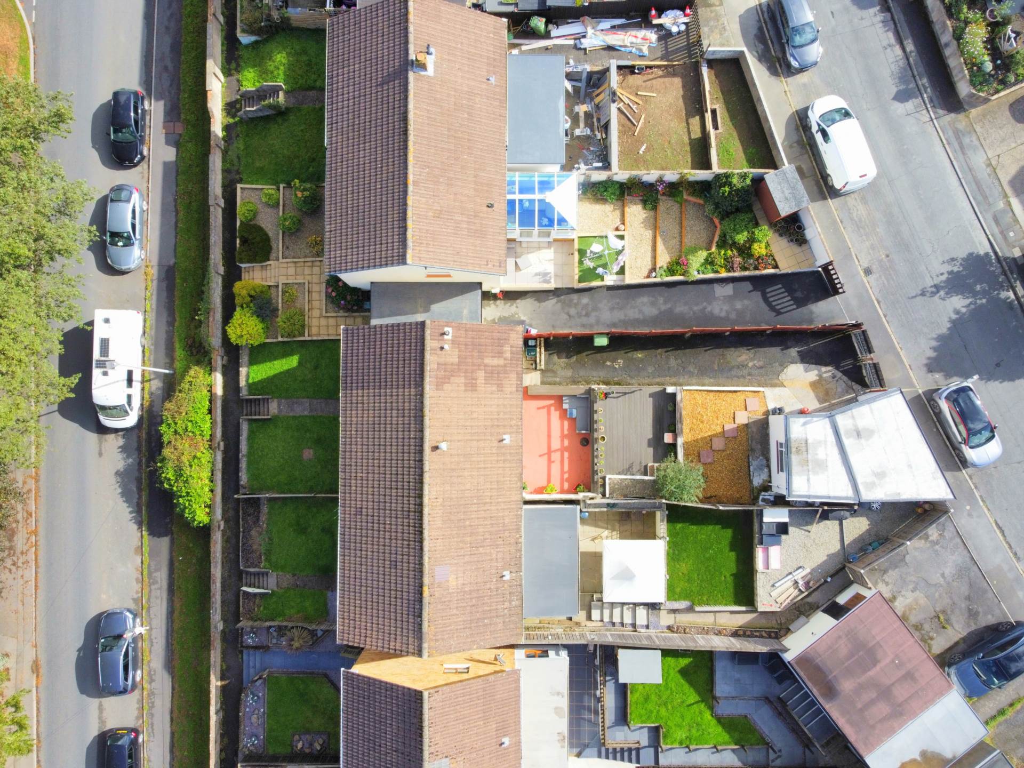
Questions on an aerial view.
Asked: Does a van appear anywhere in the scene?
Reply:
Yes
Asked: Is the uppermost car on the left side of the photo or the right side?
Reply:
right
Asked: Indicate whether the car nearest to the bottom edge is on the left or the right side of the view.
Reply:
left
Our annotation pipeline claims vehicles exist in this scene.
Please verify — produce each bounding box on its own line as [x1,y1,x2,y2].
[103,725,147,768]
[926,385,1002,469]
[93,607,143,697]
[771,0,829,74]
[105,88,151,166]
[103,184,149,272]
[92,308,156,428]
[803,98,880,199]
[946,618,1024,698]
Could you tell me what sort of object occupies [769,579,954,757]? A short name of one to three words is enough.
building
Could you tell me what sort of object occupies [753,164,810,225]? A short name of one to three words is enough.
shed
